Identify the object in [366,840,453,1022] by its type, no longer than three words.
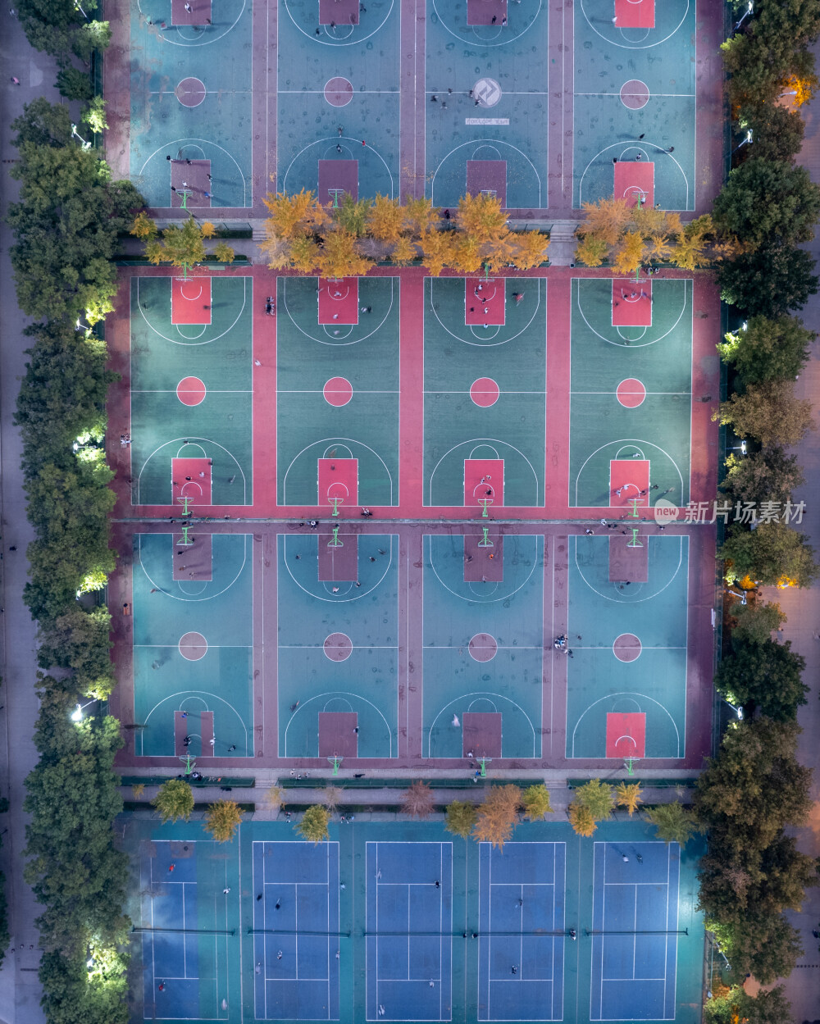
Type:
tennis court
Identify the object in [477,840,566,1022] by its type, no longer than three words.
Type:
tennis court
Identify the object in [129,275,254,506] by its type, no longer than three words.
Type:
basketball court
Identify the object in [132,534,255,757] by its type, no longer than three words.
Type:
basketball court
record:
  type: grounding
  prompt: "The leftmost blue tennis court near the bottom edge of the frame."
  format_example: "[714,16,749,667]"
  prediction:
[140,839,229,1022]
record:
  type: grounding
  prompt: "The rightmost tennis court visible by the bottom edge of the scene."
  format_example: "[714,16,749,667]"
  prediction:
[589,840,679,1022]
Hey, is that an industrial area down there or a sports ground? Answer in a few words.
sports ground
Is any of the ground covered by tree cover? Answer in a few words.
Yes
